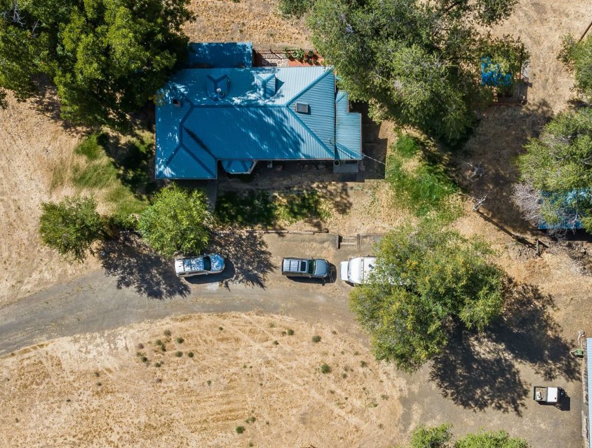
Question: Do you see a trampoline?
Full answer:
No, the frame has no trampoline in it.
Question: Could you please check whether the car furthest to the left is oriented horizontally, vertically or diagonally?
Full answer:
Seen from above, the car furthest to the left lies horizontally.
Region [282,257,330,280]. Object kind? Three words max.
car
